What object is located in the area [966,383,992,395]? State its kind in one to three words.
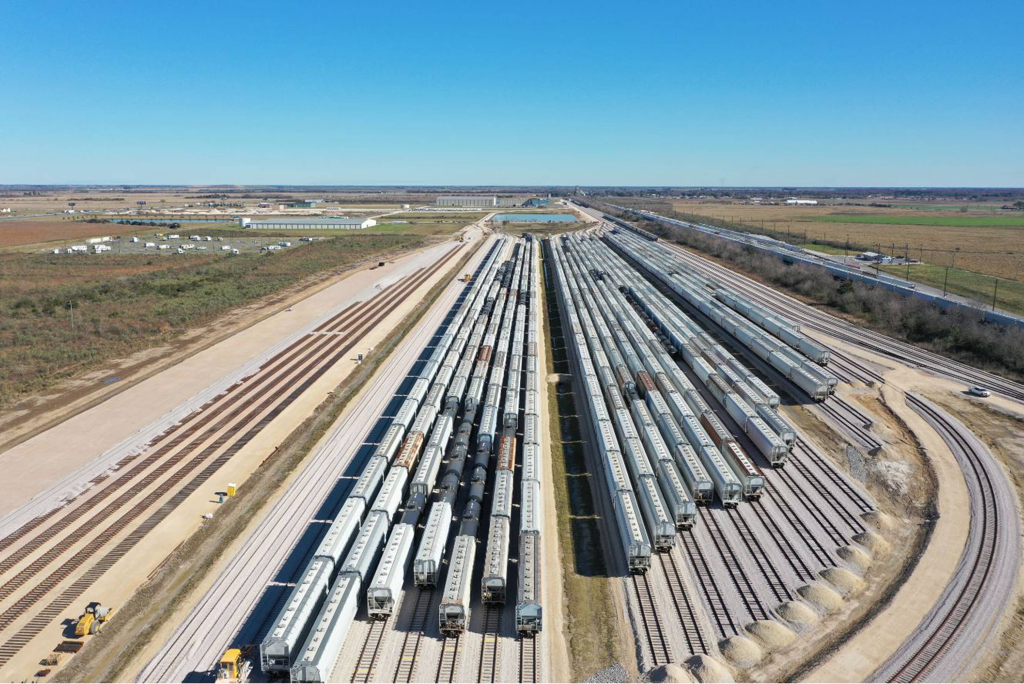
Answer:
vehicle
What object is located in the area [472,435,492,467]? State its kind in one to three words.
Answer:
rail car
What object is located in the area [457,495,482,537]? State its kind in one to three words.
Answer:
rail car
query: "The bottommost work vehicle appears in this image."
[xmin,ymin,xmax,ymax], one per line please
[68,604,117,637]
